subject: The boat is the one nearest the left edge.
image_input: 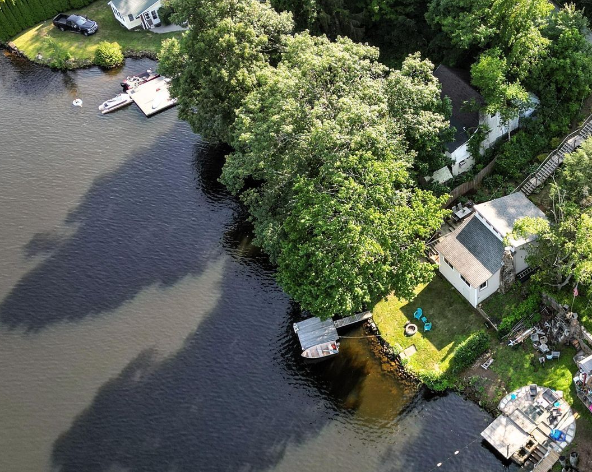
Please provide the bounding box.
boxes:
[101,94,127,111]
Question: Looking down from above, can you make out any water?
Yes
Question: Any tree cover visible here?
Yes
